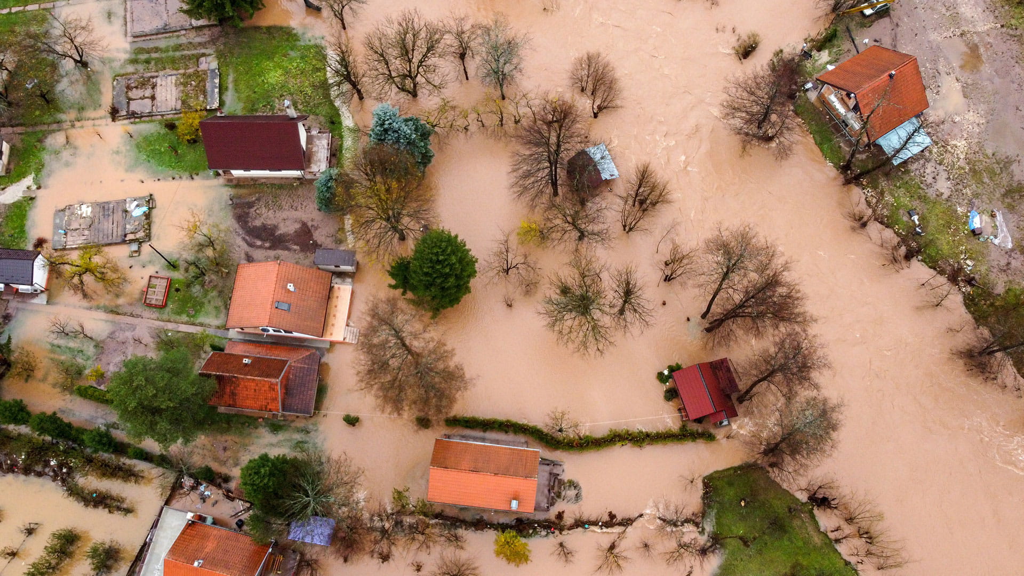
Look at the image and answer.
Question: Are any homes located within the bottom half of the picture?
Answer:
Yes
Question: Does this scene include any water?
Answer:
Yes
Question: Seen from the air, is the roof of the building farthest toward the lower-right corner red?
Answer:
Yes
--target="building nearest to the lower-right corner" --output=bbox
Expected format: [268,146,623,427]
[671,357,740,429]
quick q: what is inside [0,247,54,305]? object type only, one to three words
house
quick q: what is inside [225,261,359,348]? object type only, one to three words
house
